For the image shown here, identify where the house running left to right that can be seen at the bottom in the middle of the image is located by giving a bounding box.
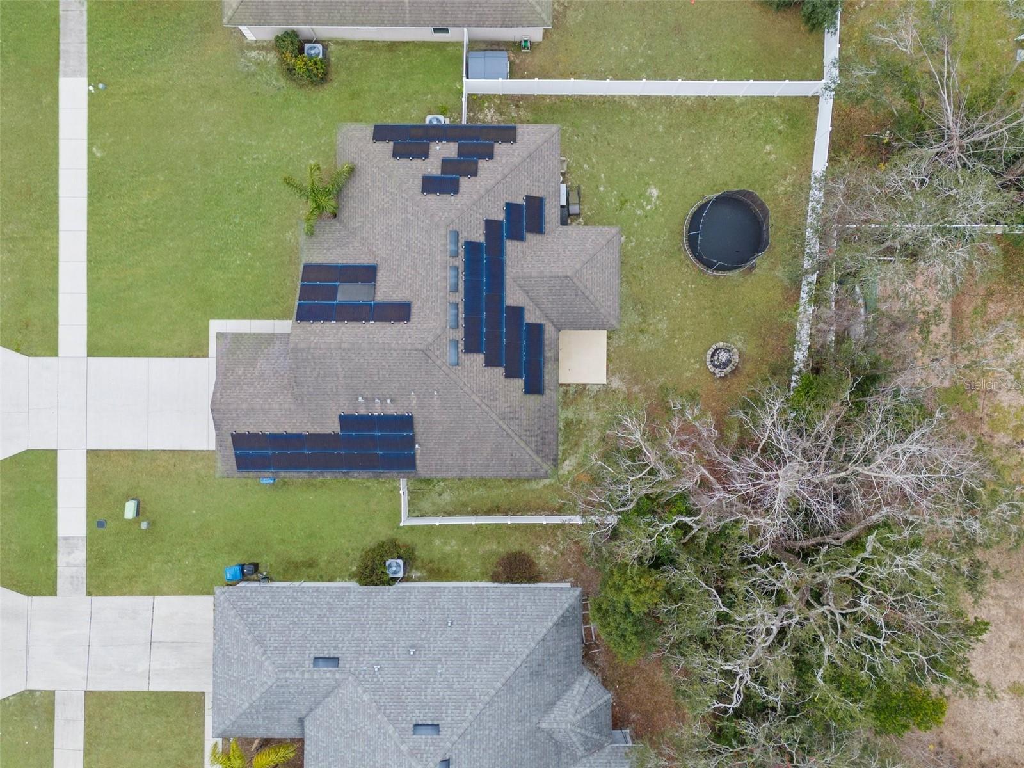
[213,580,643,768]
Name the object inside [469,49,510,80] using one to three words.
shed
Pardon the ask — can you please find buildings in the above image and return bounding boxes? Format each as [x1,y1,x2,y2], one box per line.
[469,49,510,80]
[210,124,621,478]
[213,580,643,768]
[223,0,552,42]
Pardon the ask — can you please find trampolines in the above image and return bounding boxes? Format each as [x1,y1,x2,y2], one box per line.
[679,189,770,279]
